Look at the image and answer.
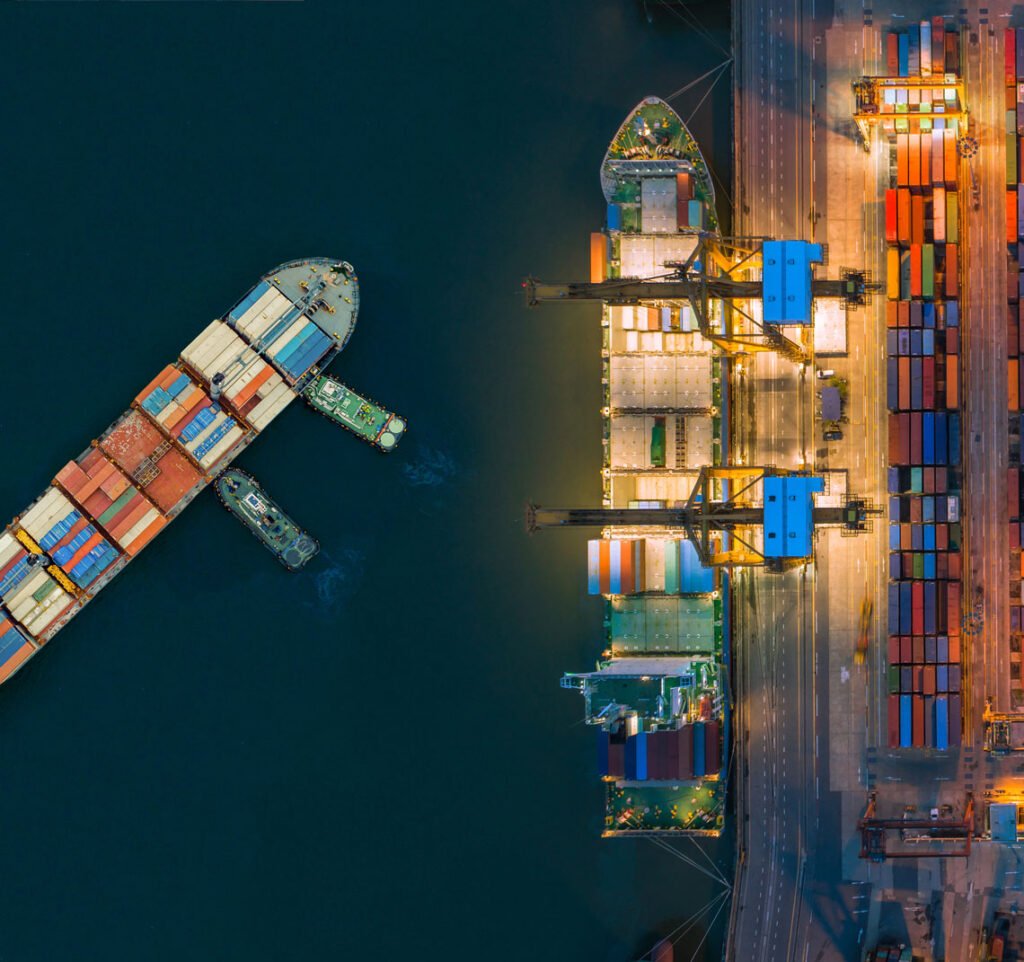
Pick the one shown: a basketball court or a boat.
boat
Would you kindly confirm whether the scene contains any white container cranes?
No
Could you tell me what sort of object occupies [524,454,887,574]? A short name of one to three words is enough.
container crane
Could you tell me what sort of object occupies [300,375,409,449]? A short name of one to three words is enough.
boat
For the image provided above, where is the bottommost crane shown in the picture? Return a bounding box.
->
[859,790,974,866]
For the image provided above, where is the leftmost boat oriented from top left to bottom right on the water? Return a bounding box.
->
[213,469,321,574]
